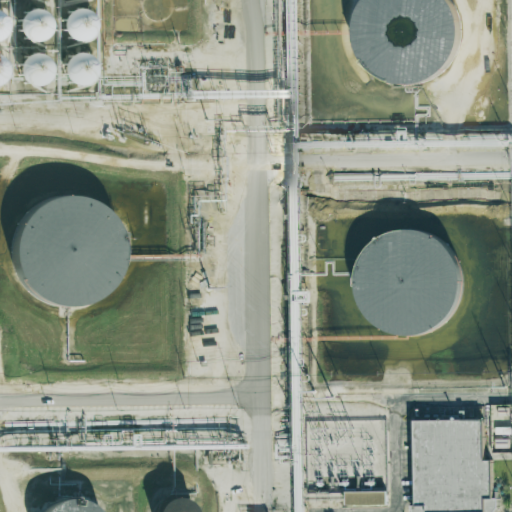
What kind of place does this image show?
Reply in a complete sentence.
It's an industrial area.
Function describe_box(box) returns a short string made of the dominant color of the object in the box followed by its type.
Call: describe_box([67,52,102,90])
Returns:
white storage tank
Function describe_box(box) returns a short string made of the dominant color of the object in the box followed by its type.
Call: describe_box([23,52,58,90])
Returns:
white storage tank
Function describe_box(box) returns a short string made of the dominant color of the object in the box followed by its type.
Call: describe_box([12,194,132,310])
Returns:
gray storage tank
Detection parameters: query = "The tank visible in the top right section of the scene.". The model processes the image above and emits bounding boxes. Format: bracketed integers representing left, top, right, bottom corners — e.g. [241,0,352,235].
[350,0,461,88]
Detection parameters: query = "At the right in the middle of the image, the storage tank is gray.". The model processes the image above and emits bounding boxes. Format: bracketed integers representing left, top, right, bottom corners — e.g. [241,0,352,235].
[354,228,462,336]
